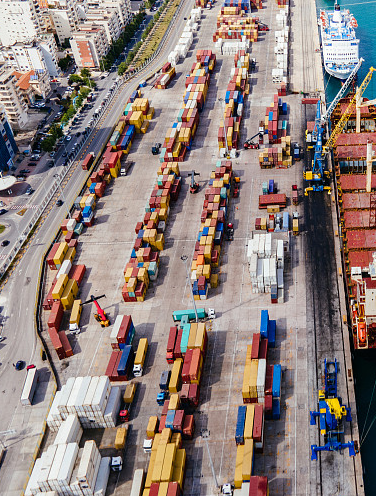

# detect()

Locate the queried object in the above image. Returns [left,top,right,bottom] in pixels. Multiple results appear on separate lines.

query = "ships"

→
[331,87,376,359]
[320,0,362,91]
